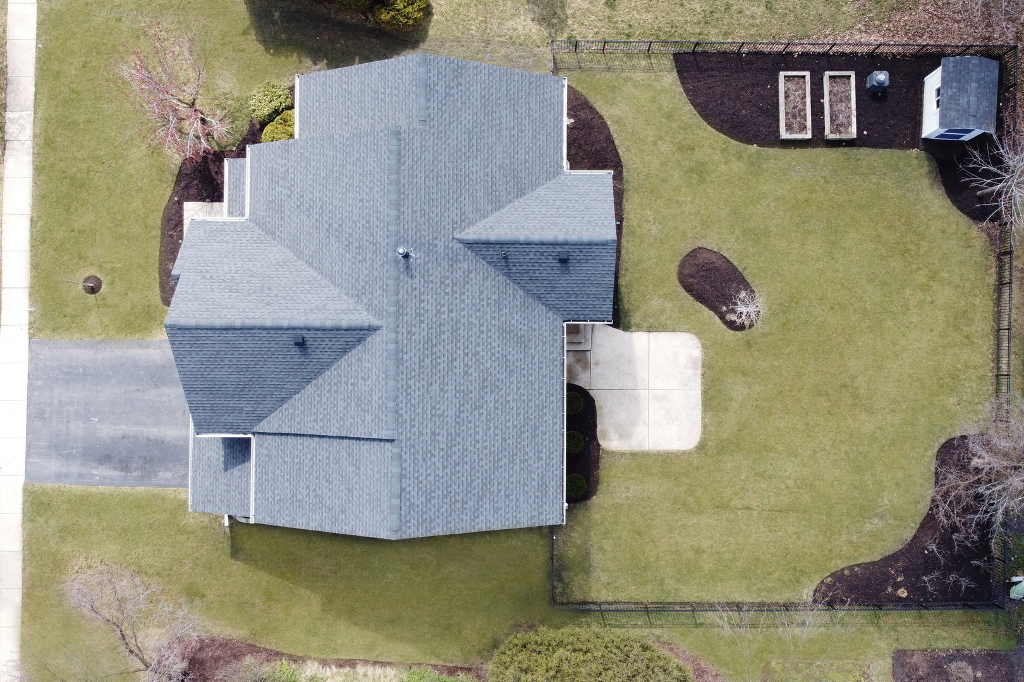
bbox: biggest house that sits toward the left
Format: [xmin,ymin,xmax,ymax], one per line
[166,55,616,539]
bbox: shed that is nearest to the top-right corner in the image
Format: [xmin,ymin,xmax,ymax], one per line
[922,57,996,140]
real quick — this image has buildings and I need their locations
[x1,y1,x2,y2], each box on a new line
[922,57,996,140]
[166,55,616,539]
